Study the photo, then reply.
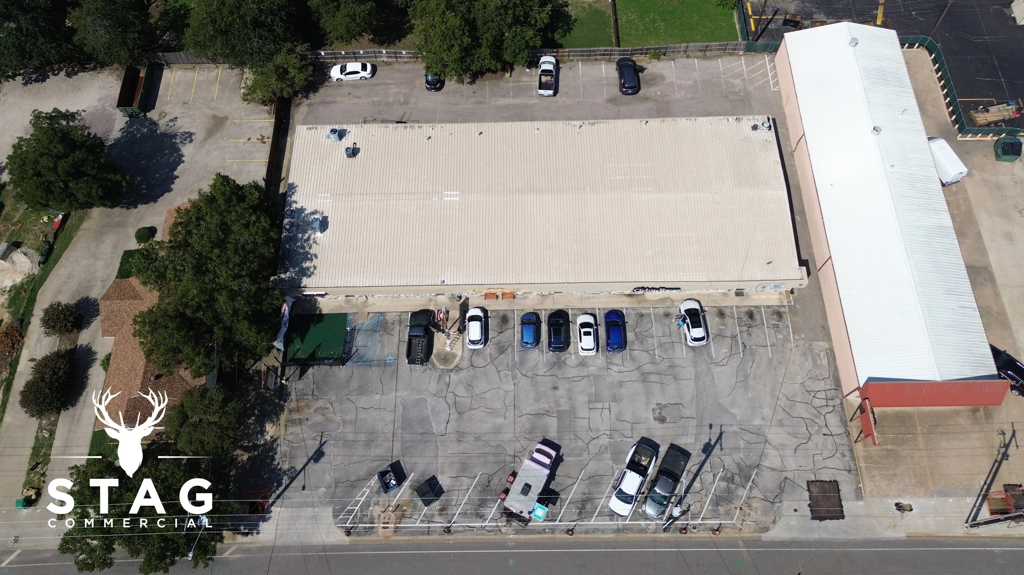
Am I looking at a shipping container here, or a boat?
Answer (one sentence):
This aerial view contains a shipping container.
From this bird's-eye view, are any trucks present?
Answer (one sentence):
Yes, you can see a truck in this photo.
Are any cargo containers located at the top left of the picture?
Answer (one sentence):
Yes, I can see a cargo container at the top left of the picture.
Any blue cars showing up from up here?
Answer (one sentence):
Yes, the image includes a blue car.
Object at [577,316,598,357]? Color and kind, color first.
white car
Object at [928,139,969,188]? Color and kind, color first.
white van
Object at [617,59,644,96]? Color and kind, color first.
black car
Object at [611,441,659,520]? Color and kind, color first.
white truck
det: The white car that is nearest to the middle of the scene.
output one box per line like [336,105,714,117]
[464,311,486,352]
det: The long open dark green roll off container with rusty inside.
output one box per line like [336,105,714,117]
[117,62,153,119]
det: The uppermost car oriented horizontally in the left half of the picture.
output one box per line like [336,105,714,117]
[331,63,373,81]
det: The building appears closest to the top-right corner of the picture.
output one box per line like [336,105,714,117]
[773,21,1013,448]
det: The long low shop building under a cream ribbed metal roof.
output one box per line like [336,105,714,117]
[272,116,809,301]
